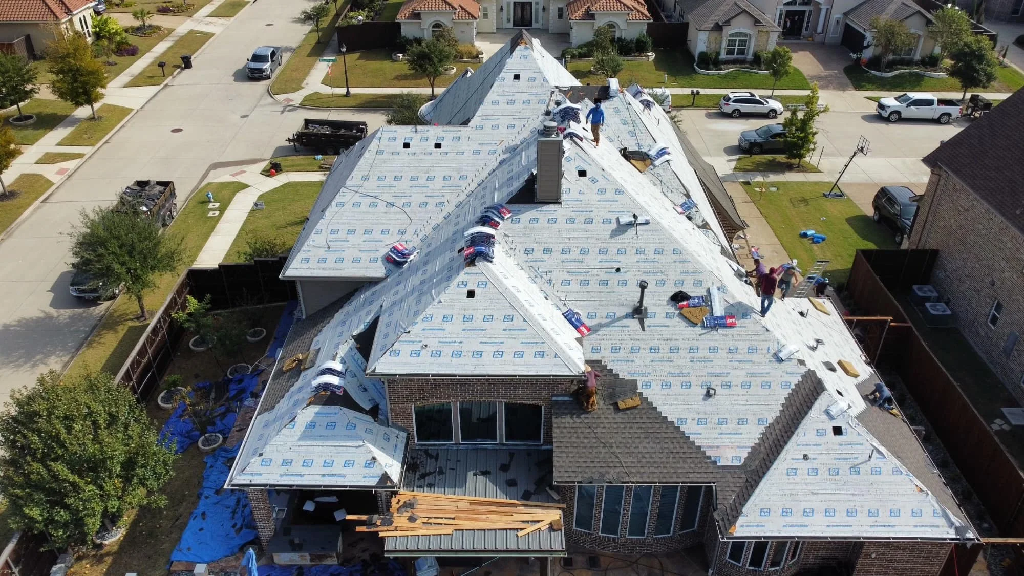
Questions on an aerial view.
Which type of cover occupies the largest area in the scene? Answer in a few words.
buildings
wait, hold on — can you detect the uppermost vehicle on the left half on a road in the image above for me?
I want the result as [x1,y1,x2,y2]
[245,39,289,75]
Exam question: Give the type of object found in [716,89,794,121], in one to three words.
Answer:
car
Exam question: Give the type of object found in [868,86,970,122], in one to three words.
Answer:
truck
